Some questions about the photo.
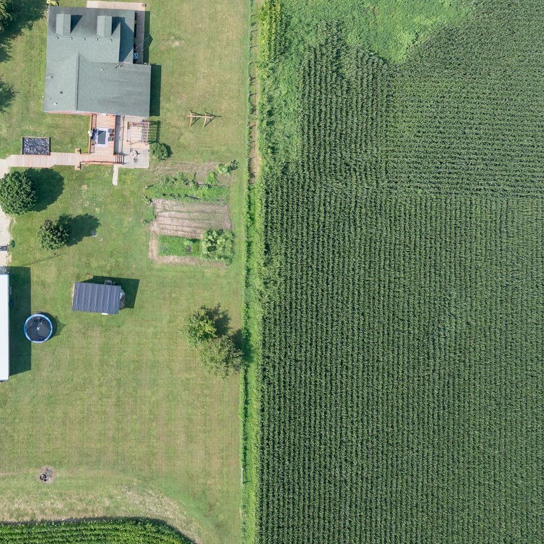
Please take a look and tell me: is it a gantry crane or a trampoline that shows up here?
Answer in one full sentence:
Looking from above, you can make out a trampoline.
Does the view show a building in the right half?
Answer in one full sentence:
No, no building is visible in the right half.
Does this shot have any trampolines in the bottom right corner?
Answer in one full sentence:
No, the scene shows no trampoline in the bottom right corner.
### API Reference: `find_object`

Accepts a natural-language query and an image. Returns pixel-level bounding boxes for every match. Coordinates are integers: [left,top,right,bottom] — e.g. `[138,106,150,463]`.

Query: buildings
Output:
[0,274,13,381]
[43,6,152,119]
[73,282,121,315]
